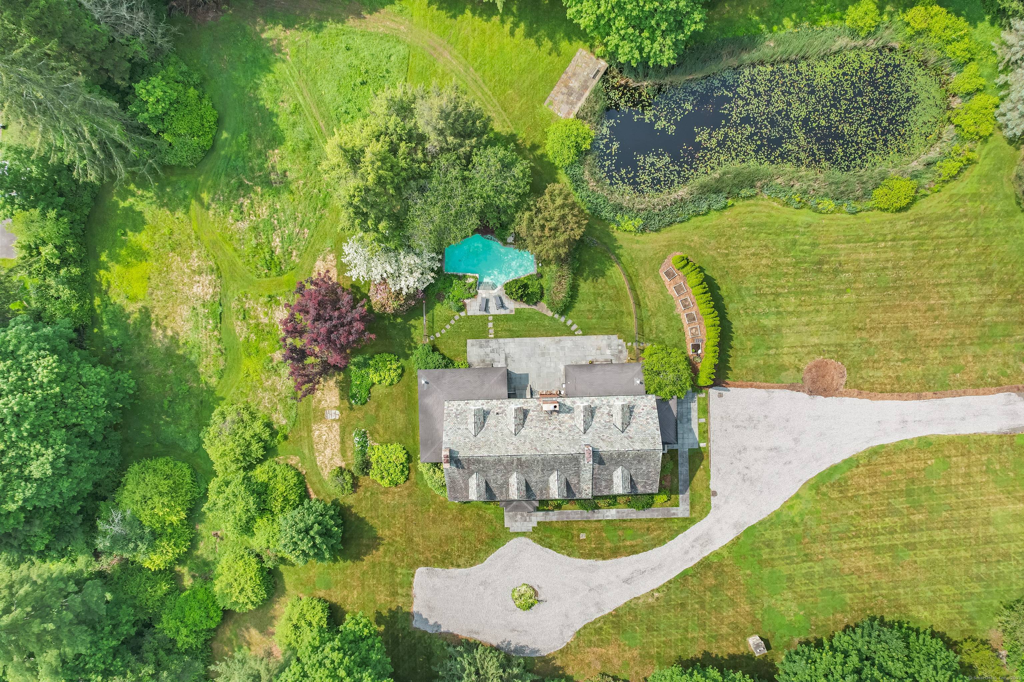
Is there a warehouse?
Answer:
No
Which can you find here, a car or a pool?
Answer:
pool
